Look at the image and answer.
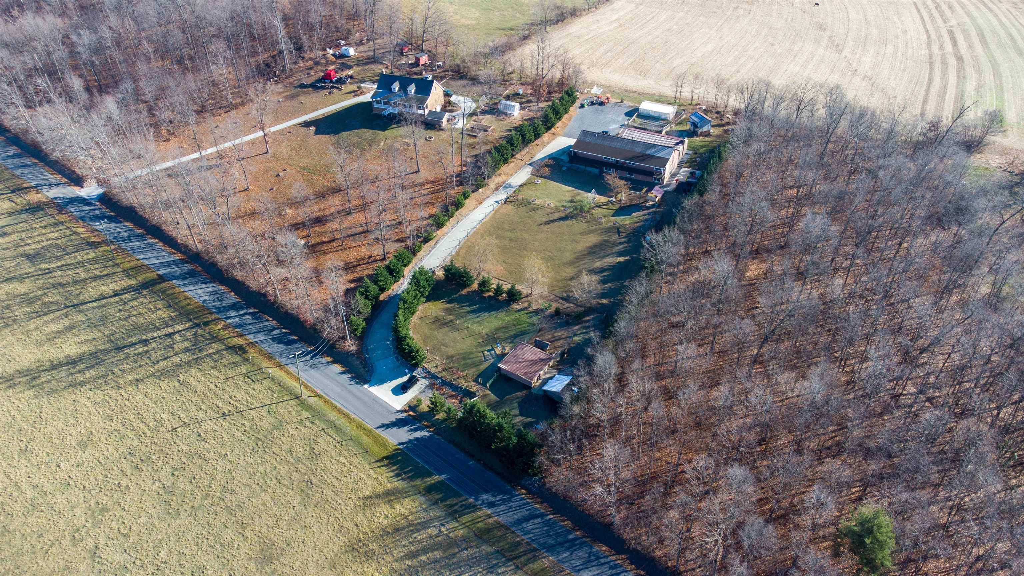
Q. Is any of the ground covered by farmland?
Yes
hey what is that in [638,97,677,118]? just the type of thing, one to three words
shed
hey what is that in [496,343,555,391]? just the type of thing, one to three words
barn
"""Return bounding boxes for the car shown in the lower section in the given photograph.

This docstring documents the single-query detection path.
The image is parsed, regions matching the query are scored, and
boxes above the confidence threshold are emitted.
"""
[400,371,419,393]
